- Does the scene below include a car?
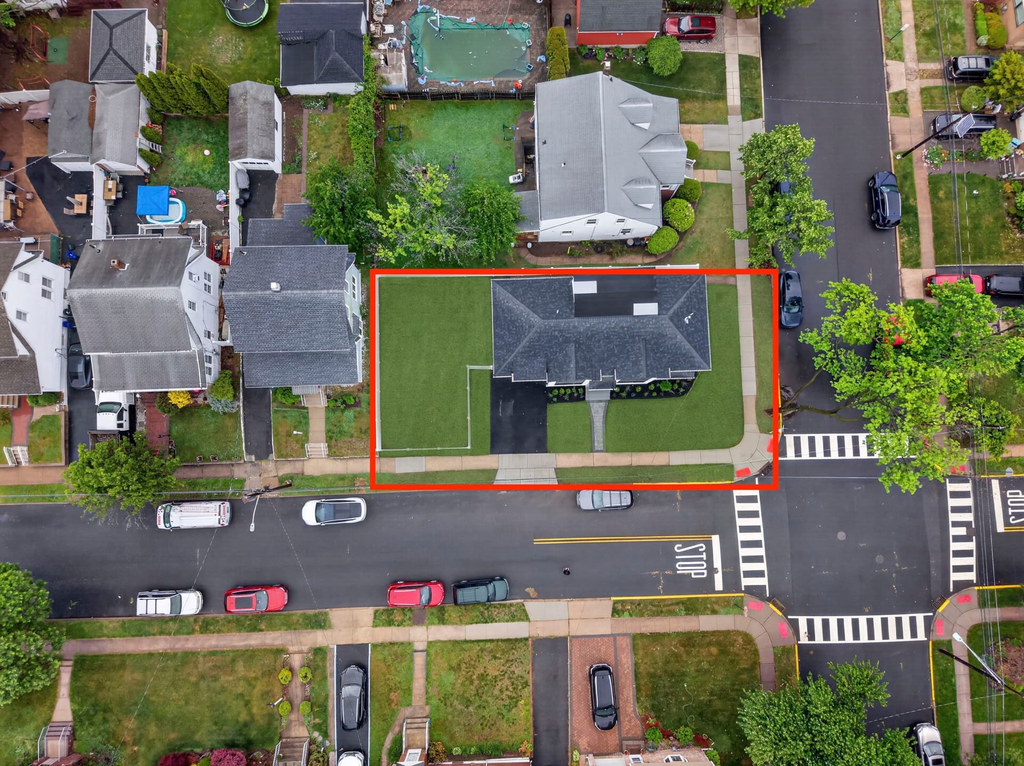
Yes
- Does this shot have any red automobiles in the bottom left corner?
Yes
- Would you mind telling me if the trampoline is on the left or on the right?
left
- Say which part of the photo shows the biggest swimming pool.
top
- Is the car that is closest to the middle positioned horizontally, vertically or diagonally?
horizontally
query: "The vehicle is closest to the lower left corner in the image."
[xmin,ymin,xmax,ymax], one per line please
[133,587,206,619]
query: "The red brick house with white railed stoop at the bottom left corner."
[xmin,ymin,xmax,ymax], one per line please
[38,720,83,766]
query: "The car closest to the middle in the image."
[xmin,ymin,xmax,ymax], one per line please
[574,486,635,515]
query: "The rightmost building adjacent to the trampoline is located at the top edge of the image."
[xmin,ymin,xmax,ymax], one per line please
[277,1,367,98]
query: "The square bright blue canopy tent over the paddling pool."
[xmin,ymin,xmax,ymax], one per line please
[137,185,183,223]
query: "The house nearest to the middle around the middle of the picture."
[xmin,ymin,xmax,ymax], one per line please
[490,272,713,401]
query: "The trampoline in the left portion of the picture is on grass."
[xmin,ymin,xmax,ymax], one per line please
[221,0,270,28]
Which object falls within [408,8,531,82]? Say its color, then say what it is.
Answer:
green swimming pool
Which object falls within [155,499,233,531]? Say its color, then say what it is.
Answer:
white vehicle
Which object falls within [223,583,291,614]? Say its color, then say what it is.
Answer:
red car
